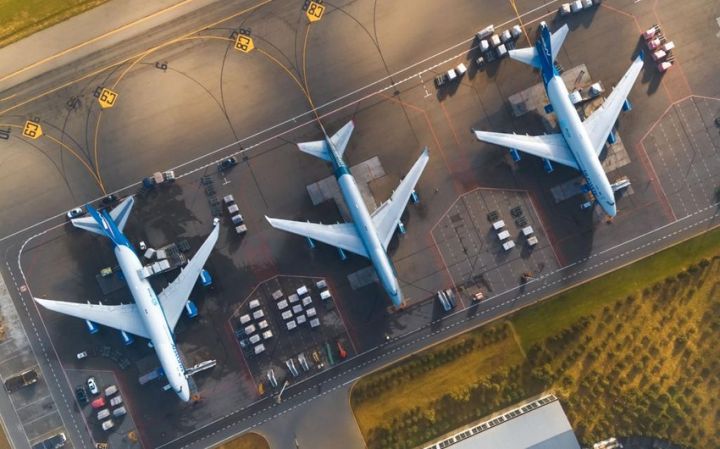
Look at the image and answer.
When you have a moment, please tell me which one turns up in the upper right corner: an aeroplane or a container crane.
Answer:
aeroplane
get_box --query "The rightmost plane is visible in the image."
[477,22,650,216]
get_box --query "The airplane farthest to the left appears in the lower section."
[30,193,216,401]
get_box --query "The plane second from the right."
[266,119,430,306]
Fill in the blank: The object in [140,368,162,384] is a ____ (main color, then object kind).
blue vehicle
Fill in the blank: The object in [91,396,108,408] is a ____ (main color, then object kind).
red vehicle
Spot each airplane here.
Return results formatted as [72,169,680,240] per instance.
[30,193,216,401]
[266,119,430,306]
[477,22,650,216]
